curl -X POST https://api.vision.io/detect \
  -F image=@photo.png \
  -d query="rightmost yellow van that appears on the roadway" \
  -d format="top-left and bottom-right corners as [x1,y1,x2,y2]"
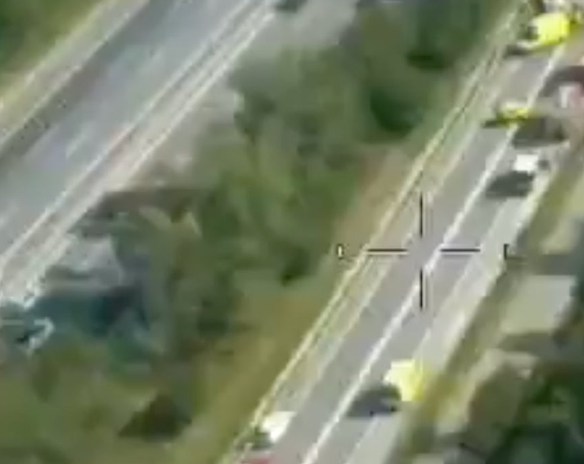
[525,11,572,49]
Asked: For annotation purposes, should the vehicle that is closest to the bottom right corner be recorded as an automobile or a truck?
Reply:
truck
